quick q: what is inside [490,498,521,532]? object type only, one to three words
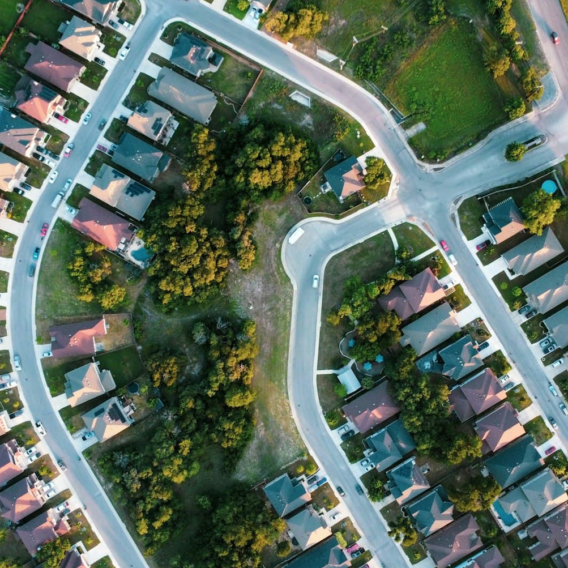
swimming pool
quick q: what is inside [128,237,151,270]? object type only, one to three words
swimming pool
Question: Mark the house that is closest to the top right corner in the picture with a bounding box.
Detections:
[482,195,530,245]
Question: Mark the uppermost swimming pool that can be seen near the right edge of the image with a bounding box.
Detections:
[541,178,558,195]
